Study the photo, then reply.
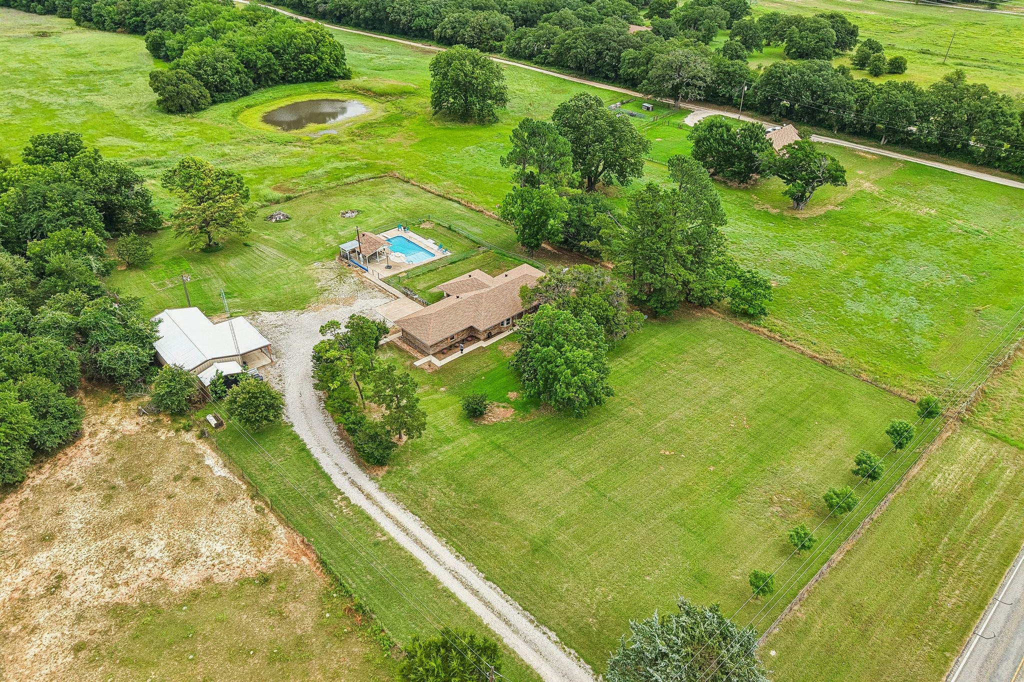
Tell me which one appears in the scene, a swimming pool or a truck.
swimming pool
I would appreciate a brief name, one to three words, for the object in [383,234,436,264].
swimming pool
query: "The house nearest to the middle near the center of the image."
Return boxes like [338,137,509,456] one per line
[394,263,572,354]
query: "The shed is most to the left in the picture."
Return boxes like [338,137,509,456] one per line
[155,304,273,400]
